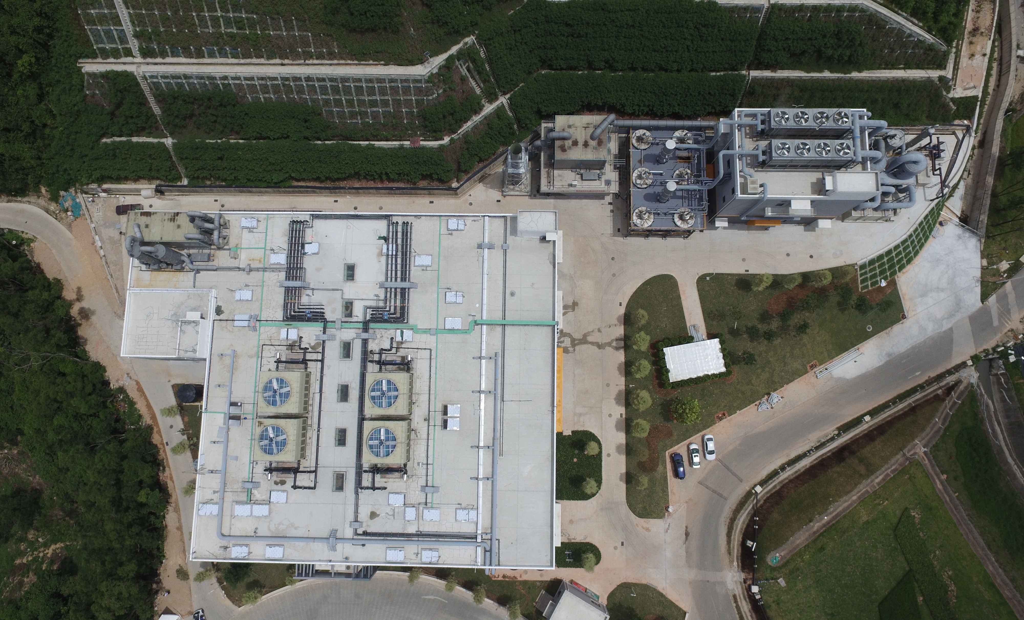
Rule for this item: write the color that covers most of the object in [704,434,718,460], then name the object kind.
white car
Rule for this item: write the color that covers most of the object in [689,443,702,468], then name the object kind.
white vehicle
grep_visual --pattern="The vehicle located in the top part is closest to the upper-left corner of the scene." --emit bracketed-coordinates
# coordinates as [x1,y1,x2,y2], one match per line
[113,202,142,215]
